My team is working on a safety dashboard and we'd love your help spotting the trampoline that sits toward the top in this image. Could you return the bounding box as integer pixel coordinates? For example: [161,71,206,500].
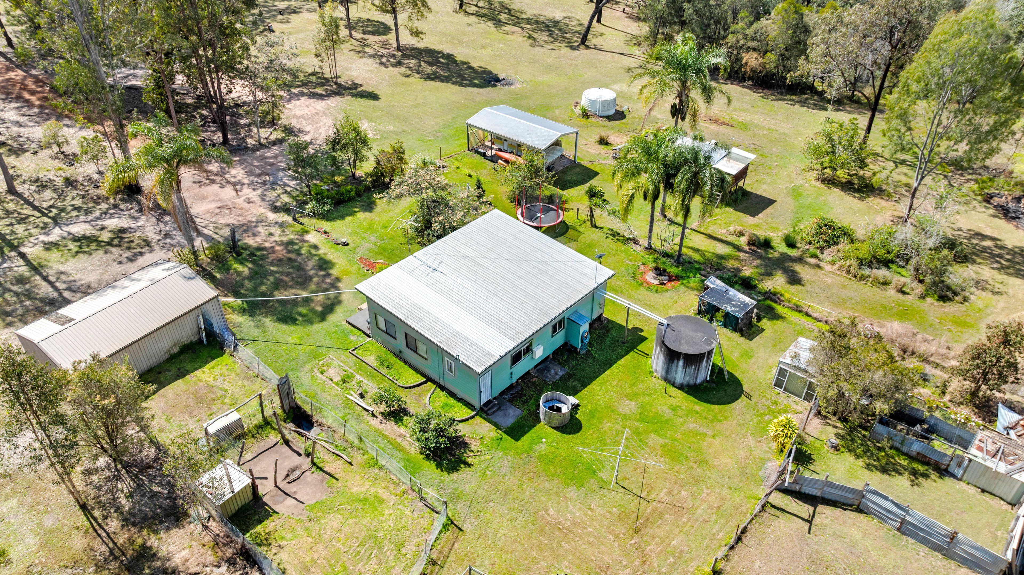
[516,182,565,234]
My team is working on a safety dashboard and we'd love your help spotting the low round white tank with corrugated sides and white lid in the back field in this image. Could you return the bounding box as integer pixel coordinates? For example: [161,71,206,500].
[580,88,617,122]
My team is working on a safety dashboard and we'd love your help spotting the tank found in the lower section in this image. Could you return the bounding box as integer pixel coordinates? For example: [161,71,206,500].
[649,318,720,393]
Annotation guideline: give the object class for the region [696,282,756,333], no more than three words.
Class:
house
